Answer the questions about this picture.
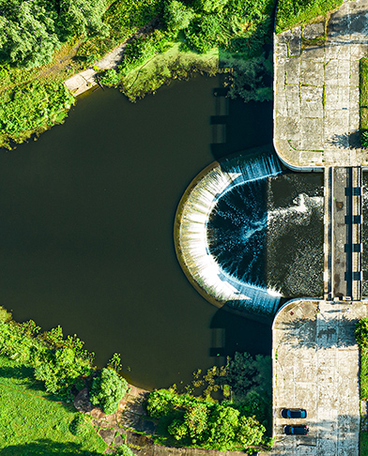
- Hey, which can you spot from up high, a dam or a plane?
dam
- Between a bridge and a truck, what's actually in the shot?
bridge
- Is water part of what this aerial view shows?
Yes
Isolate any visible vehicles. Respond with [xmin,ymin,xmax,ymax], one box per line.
[282,407,306,419]
[284,424,309,436]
